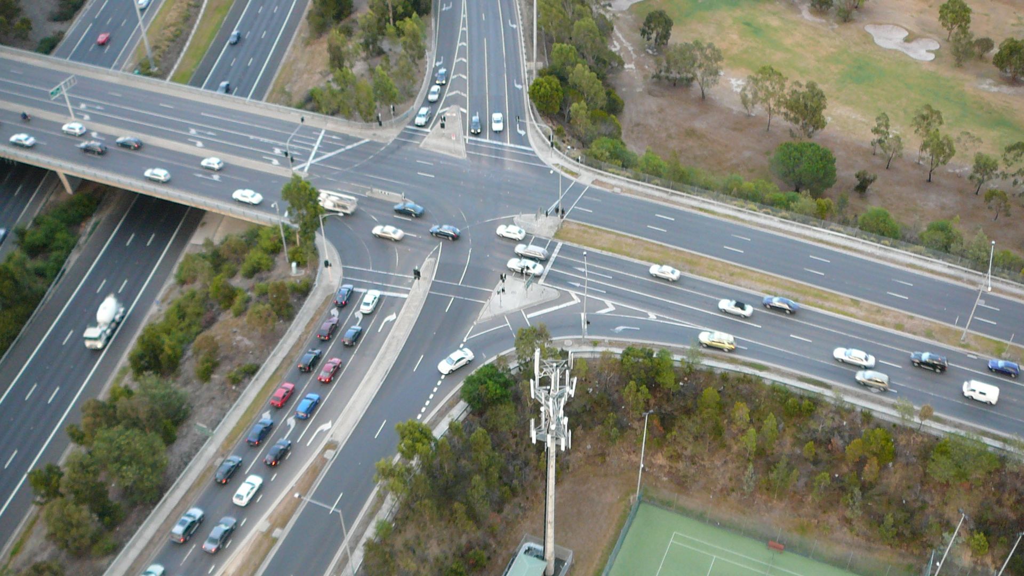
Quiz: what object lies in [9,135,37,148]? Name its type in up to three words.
vehicle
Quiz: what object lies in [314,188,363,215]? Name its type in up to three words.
truck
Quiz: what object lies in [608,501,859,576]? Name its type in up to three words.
tennis court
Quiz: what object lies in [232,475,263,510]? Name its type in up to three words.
car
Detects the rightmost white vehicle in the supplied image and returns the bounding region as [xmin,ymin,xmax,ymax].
[960,380,1002,405]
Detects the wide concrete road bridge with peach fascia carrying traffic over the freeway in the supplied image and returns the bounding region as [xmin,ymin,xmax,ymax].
[0,46,342,230]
